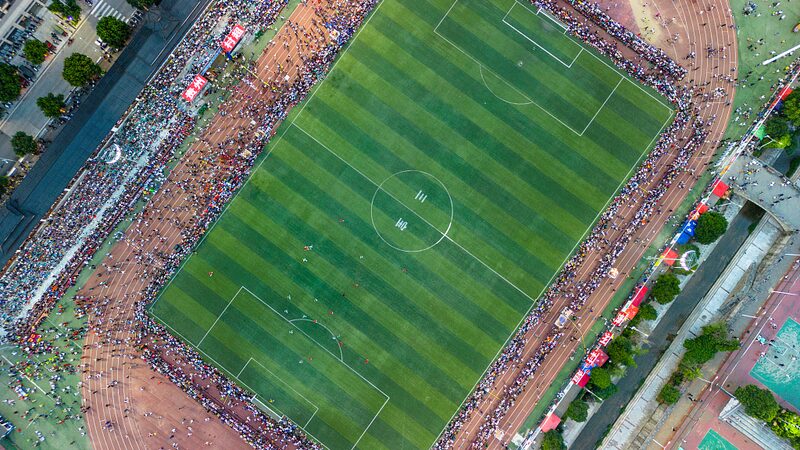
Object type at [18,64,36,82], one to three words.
car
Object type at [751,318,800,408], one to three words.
basketball court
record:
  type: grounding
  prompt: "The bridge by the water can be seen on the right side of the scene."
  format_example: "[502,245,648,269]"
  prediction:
[728,150,800,230]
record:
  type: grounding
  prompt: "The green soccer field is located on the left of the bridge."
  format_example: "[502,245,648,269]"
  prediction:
[137,0,687,450]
